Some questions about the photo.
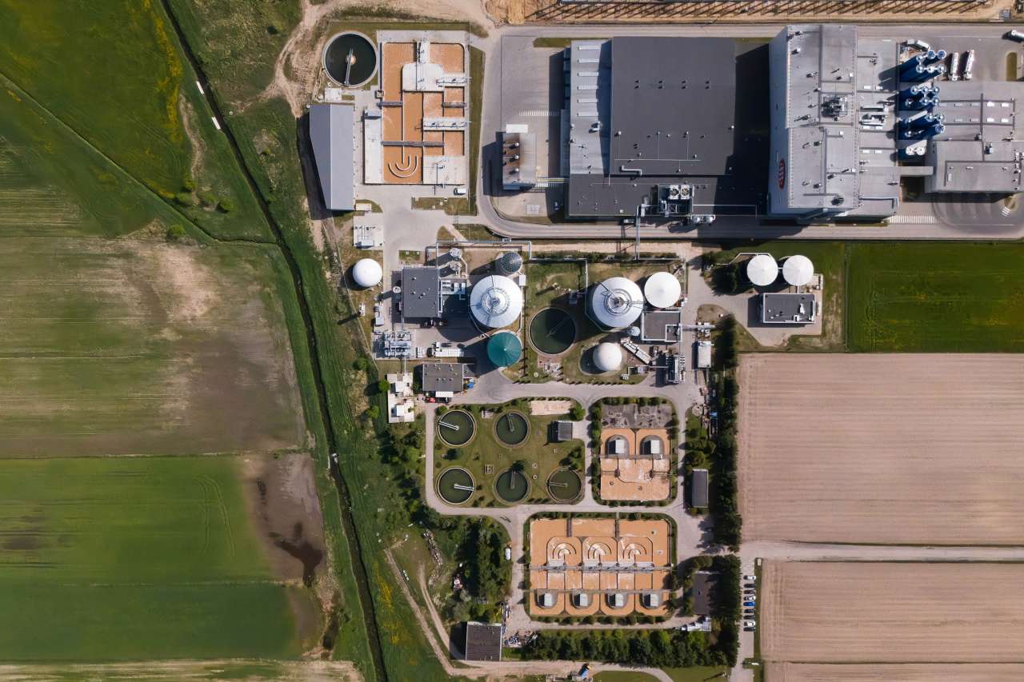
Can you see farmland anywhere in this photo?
Yes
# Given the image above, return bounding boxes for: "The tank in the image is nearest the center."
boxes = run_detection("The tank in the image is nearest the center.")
[487,331,522,370]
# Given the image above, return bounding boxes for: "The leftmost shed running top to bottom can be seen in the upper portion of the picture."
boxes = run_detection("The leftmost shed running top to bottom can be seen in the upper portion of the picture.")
[310,105,356,211]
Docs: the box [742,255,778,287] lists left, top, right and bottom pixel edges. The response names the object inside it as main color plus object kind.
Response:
white storage tank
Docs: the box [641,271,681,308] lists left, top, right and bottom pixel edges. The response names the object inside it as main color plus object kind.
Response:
white storage tank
